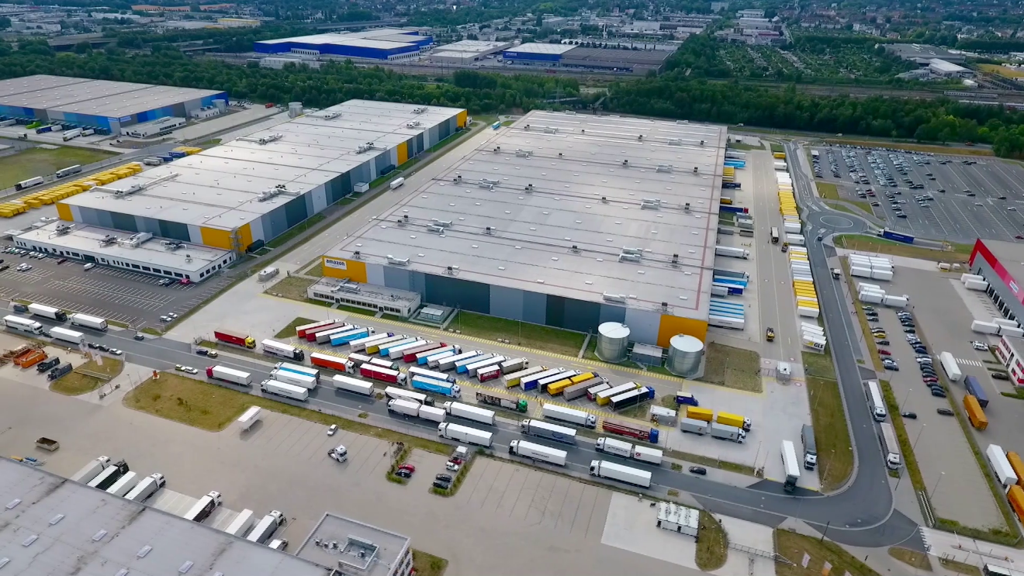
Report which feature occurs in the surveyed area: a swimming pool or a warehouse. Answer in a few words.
warehouse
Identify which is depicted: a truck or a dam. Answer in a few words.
truck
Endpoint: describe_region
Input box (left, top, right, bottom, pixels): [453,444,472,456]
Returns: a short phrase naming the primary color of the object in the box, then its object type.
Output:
white vehicle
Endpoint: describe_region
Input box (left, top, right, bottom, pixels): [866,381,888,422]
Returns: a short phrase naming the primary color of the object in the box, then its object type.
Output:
white truck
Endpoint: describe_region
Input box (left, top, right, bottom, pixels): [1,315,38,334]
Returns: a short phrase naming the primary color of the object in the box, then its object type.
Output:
white vehicle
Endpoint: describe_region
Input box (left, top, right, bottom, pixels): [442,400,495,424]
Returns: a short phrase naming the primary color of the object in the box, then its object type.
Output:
white truck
